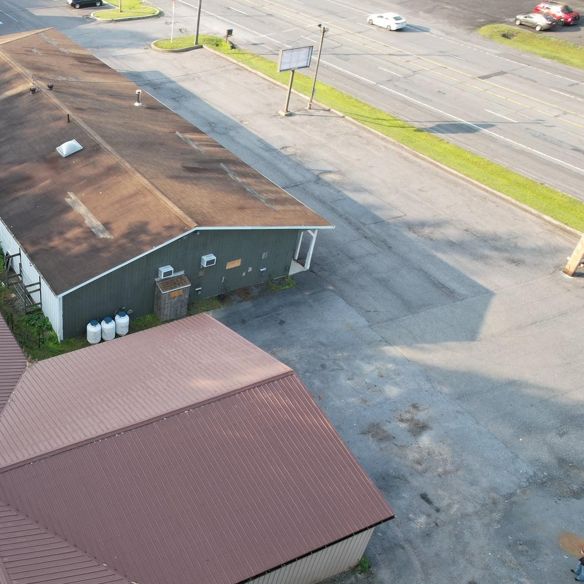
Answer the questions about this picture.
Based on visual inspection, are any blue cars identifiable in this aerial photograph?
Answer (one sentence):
No, the scene contains no blue car.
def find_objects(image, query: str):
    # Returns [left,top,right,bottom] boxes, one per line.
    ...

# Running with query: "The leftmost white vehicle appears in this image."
[367,10,409,30]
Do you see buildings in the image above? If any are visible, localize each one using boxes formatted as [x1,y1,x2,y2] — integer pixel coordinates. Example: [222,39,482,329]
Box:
[0,29,334,339]
[0,310,400,584]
